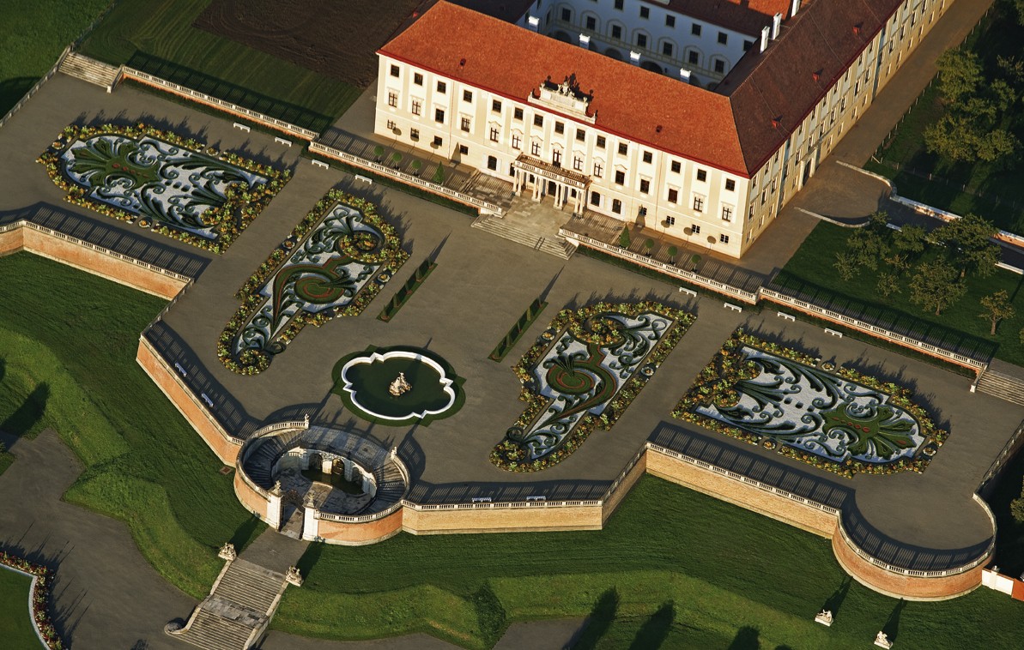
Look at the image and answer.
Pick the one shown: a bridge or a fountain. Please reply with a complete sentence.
It is a fountain that can be seen here.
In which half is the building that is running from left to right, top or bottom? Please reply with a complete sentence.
The building that is running from left to right is in the top half of the image.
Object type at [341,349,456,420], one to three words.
fountain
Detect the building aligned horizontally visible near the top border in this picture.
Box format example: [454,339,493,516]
[370,0,960,260]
